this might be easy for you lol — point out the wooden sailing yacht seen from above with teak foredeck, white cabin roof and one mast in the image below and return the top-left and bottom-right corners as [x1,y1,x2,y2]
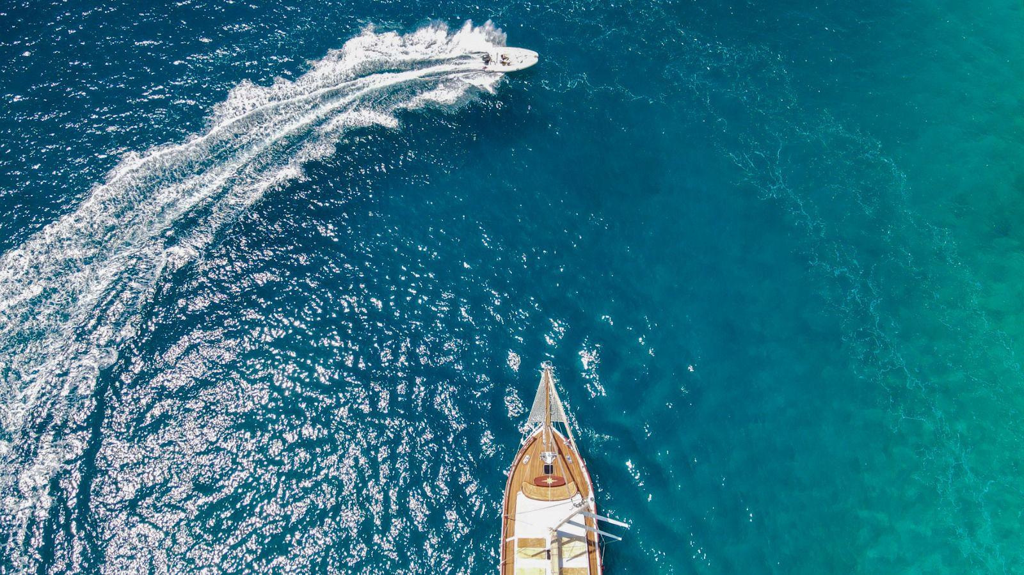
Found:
[498,365,629,575]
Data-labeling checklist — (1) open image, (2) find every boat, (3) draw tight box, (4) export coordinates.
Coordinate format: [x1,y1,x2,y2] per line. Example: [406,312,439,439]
[498,365,629,575]
[479,48,539,72]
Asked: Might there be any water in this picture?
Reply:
Yes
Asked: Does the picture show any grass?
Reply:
No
